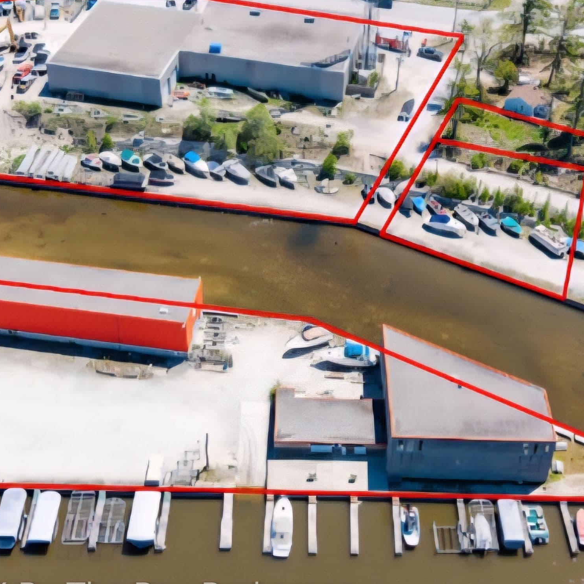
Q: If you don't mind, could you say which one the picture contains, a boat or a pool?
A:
boat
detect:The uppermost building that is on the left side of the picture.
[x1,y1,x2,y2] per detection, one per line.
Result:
[46,0,365,107]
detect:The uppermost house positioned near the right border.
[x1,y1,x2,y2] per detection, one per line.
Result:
[505,84,558,119]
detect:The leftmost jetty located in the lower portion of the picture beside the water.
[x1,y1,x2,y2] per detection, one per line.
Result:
[18,493,39,550]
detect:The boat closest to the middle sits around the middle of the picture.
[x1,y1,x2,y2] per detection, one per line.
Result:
[285,325,340,346]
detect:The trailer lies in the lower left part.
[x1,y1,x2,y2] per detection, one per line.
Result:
[142,445,163,486]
